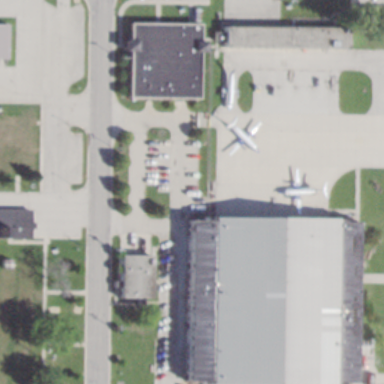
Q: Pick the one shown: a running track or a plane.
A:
plane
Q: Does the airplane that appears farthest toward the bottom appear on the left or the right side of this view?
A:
right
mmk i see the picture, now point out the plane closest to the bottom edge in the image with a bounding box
[283,170,329,212]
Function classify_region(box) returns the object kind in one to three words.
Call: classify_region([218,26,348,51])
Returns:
building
